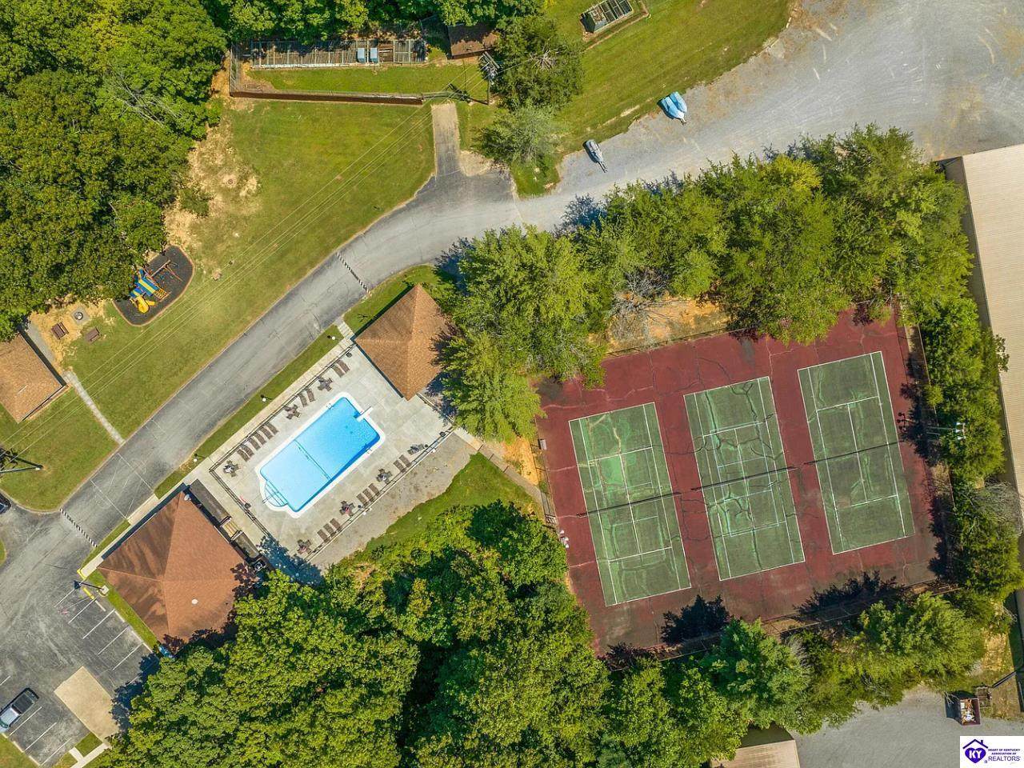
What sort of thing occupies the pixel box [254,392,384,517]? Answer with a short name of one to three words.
swimming pool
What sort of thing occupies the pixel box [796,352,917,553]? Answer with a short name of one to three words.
tennis court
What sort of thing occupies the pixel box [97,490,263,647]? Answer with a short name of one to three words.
building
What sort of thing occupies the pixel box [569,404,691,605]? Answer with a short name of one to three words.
tennis court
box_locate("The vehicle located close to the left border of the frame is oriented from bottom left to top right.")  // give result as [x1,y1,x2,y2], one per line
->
[0,689,38,733]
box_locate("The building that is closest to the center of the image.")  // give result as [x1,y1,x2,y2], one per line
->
[355,284,470,402]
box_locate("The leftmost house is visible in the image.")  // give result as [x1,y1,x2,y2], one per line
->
[0,323,75,422]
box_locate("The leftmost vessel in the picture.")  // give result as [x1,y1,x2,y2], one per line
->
[584,140,601,164]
